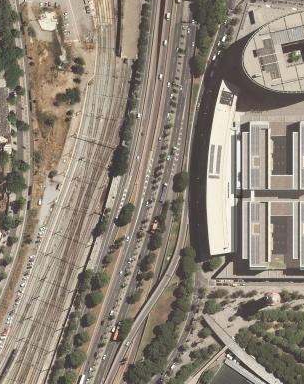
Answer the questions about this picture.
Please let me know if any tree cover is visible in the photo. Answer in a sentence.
Yes, some tree cover is visible.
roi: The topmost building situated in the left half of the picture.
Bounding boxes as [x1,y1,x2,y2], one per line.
[38,12,58,32]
